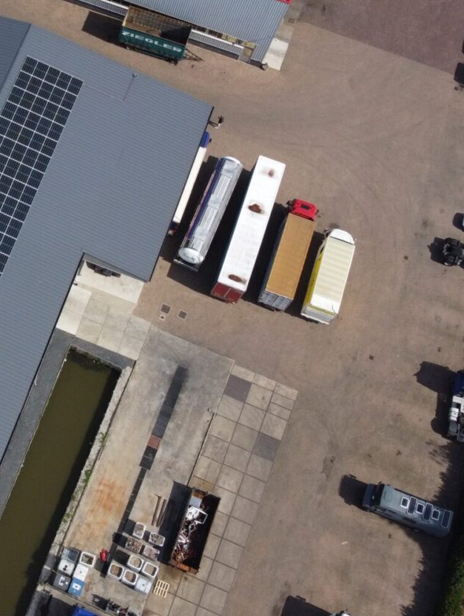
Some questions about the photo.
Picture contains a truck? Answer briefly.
Yes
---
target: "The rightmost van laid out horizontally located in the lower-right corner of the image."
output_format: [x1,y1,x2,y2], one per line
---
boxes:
[361,481,461,530]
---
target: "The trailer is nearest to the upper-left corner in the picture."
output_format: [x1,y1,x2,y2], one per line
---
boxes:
[119,7,208,59]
